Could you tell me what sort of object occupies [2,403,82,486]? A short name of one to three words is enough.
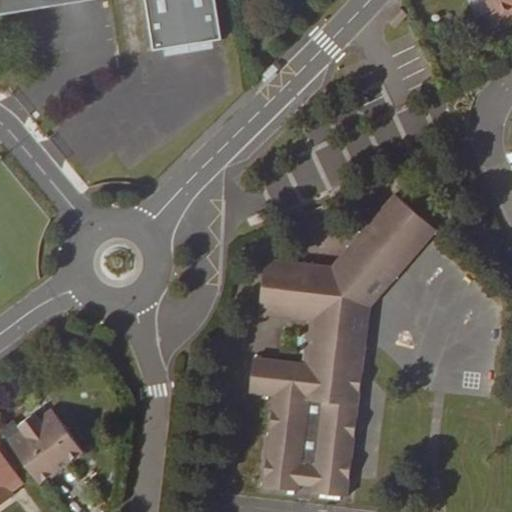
house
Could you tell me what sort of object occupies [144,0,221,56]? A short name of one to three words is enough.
building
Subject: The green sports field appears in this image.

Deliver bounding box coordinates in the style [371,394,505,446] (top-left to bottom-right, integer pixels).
[0,160,49,306]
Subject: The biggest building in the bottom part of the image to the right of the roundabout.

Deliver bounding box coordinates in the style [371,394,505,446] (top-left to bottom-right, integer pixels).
[248,193,434,501]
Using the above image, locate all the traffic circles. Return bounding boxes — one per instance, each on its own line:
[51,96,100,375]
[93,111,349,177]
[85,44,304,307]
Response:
[66,206,172,316]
